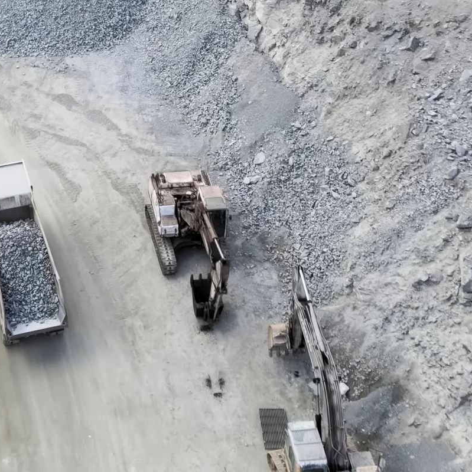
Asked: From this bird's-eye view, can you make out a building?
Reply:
No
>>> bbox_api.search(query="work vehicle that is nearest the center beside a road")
[141,174,235,319]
